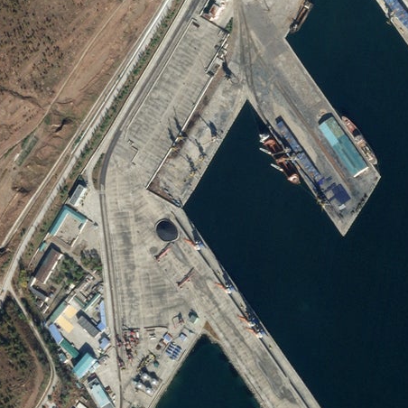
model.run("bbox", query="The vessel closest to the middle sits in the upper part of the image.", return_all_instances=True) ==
[258,133,298,184]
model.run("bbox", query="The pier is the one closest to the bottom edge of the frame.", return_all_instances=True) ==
[182,208,320,408]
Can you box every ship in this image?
[291,2,311,33]
[342,116,378,167]
[258,133,298,184]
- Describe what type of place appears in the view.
port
